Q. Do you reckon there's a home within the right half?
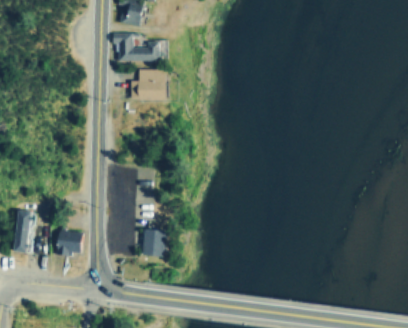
No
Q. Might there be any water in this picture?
Yes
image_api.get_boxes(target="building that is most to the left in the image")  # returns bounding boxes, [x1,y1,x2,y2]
[14,209,38,252]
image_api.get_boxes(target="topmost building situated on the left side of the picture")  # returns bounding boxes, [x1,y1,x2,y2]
[118,0,144,26]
